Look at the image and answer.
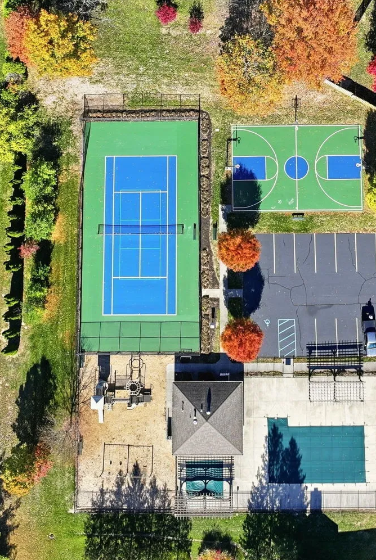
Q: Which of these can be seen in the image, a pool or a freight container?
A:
pool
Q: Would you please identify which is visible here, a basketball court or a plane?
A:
basketball court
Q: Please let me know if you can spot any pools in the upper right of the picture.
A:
No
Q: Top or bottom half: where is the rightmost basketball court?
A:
top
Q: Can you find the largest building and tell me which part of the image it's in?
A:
bottom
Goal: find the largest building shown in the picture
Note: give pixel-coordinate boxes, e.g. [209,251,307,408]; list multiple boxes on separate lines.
[172,381,243,457]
